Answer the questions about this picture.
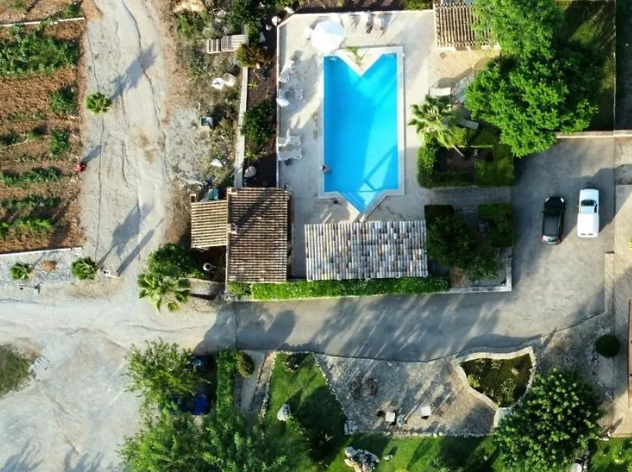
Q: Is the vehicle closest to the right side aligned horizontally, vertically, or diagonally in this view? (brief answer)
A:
vertically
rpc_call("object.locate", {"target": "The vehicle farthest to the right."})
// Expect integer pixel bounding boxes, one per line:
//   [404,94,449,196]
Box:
[576,189,601,238]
